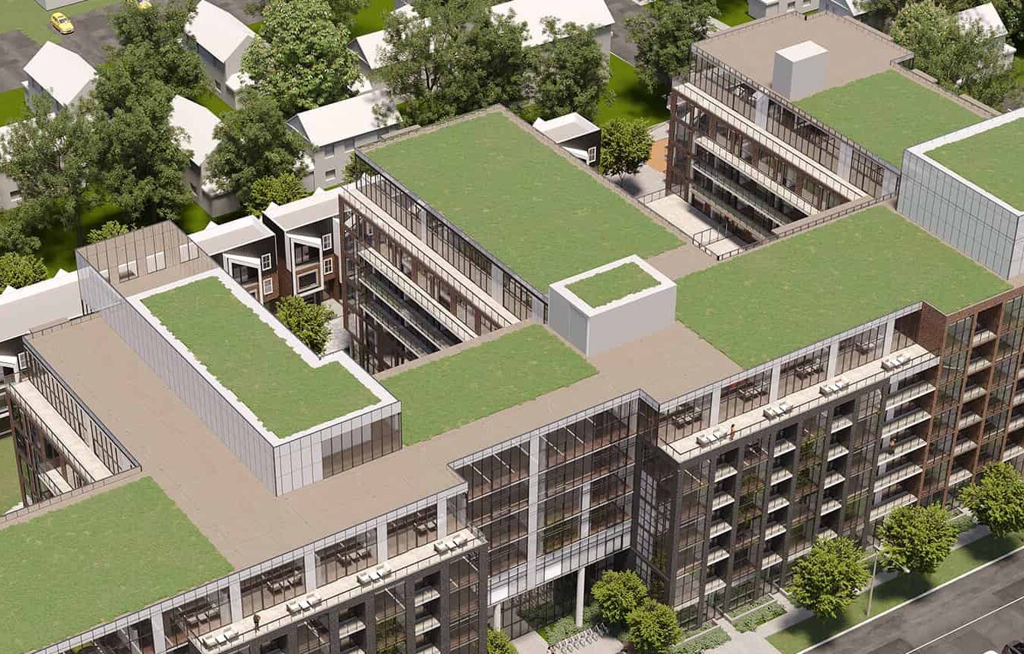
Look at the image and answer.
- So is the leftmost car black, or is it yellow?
yellow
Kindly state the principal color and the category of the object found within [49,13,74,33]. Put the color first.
yellow car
